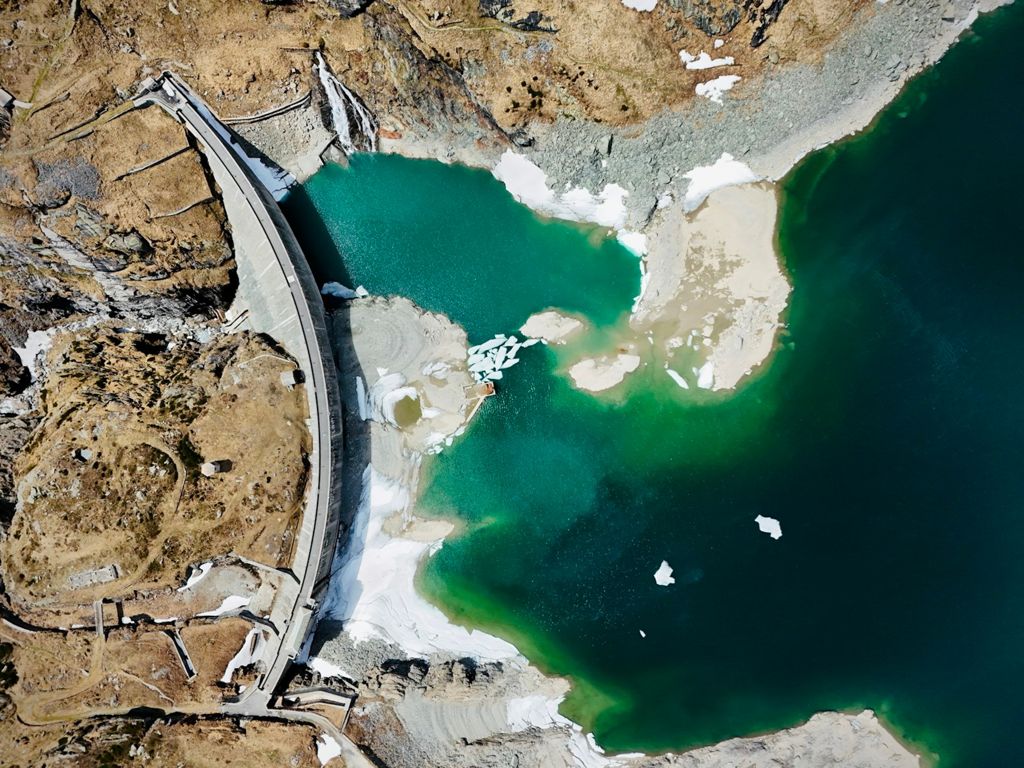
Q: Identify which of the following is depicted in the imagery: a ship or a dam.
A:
dam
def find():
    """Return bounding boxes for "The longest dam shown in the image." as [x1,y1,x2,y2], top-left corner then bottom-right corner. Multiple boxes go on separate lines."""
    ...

[177,102,341,693]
